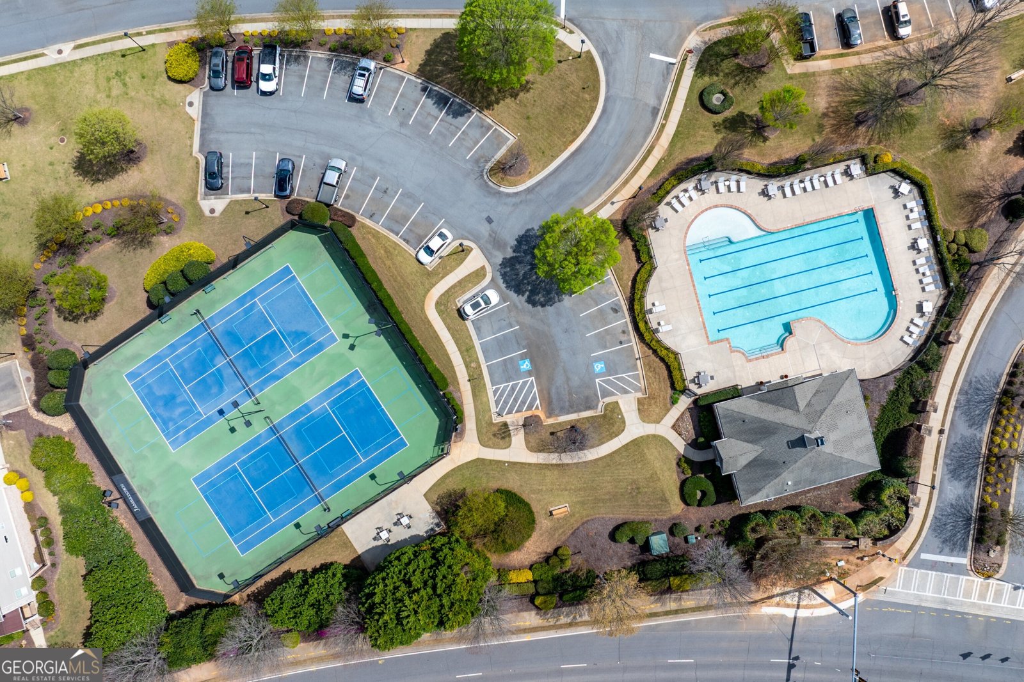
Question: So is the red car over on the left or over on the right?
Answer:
left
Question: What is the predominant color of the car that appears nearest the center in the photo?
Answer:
white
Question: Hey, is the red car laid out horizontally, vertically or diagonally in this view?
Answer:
vertically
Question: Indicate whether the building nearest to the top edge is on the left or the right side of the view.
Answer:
right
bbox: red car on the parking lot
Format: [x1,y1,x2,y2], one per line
[232,44,254,88]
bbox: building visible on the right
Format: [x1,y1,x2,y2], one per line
[709,368,881,506]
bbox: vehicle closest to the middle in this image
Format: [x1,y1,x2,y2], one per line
[459,290,499,322]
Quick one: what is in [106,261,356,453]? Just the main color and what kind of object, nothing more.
blue tennis court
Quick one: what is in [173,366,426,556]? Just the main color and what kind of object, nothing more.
blue tennis court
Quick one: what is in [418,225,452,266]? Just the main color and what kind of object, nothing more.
white car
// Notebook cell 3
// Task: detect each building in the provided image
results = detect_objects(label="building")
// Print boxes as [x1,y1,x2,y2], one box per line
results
[709,368,881,506]
[0,476,51,639]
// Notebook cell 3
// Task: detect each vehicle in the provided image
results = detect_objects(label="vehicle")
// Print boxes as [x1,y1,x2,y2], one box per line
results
[796,9,818,58]
[418,225,452,266]
[317,156,345,206]
[274,158,295,198]
[207,46,228,90]
[886,0,912,40]
[232,44,254,88]
[257,43,280,95]
[351,58,375,102]
[203,150,224,191]
[459,290,499,322]
[836,7,860,49]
